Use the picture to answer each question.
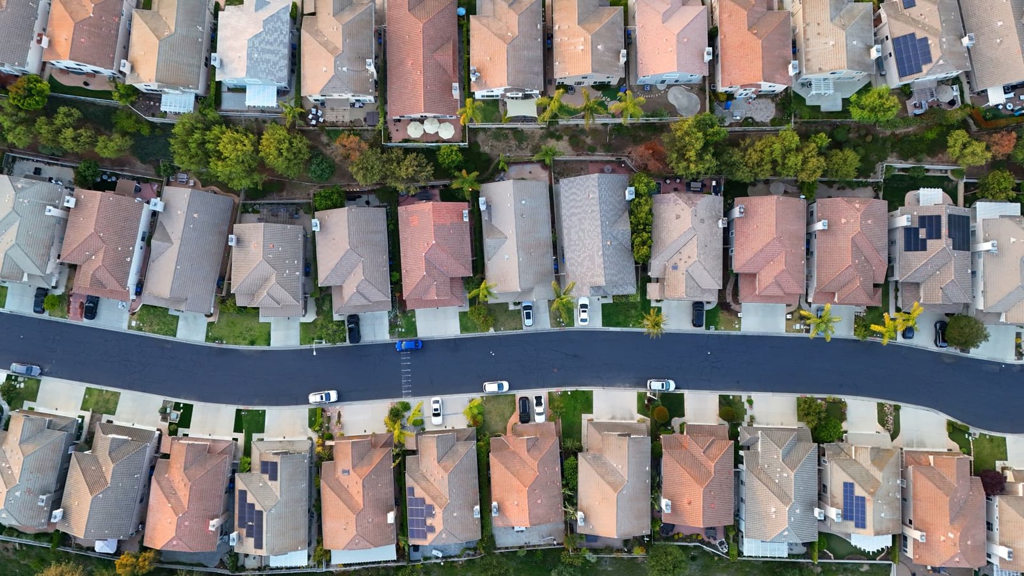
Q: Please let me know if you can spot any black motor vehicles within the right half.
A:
Yes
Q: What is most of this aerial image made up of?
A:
buildings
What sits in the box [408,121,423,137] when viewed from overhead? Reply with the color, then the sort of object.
white umbrella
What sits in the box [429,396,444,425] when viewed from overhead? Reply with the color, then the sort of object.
white car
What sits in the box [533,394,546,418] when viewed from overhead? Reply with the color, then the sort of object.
white vehicle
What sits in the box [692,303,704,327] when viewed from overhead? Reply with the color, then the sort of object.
black vehicle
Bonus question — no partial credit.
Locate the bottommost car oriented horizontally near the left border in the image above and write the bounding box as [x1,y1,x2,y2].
[11,362,44,378]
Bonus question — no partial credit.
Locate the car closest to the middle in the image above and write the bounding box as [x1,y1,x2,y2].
[521,300,534,327]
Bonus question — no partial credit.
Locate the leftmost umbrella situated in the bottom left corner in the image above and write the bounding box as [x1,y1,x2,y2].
[98,541,114,553]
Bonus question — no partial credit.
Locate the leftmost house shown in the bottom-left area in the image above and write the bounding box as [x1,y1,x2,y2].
[0,399,82,527]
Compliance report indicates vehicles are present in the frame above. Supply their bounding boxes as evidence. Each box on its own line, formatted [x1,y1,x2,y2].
[308,389,340,404]
[692,303,704,327]
[482,380,510,393]
[900,314,915,342]
[395,339,423,352]
[11,362,44,378]
[346,314,361,344]
[31,285,52,316]
[533,394,546,418]
[577,297,590,326]
[85,303,99,320]
[517,396,531,419]
[521,300,534,327]
[932,319,948,348]
[645,377,676,393]
[429,396,444,425]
